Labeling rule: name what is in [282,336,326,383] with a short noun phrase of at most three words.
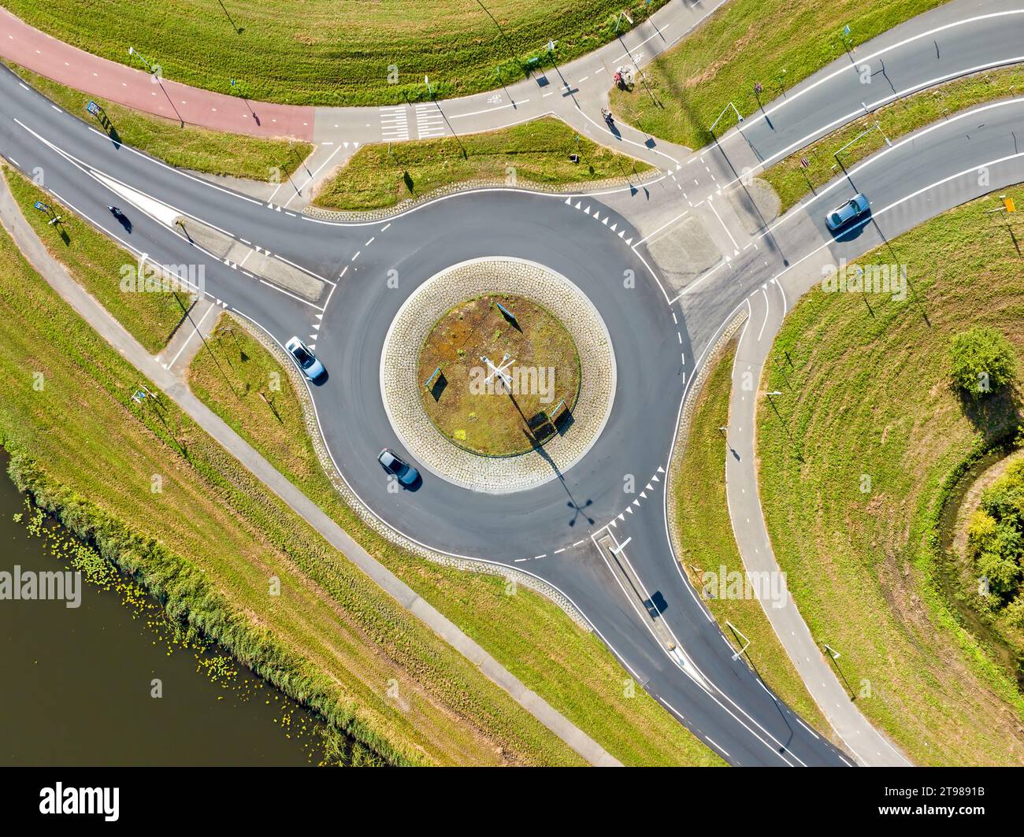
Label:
car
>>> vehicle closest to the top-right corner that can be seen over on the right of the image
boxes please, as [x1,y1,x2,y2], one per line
[823,192,872,230]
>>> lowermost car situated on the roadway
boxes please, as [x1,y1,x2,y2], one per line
[377,446,421,489]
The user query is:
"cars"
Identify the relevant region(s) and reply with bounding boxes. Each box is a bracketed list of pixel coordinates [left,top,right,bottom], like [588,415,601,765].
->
[282,336,326,383]
[377,446,421,489]
[823,192,872,230]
